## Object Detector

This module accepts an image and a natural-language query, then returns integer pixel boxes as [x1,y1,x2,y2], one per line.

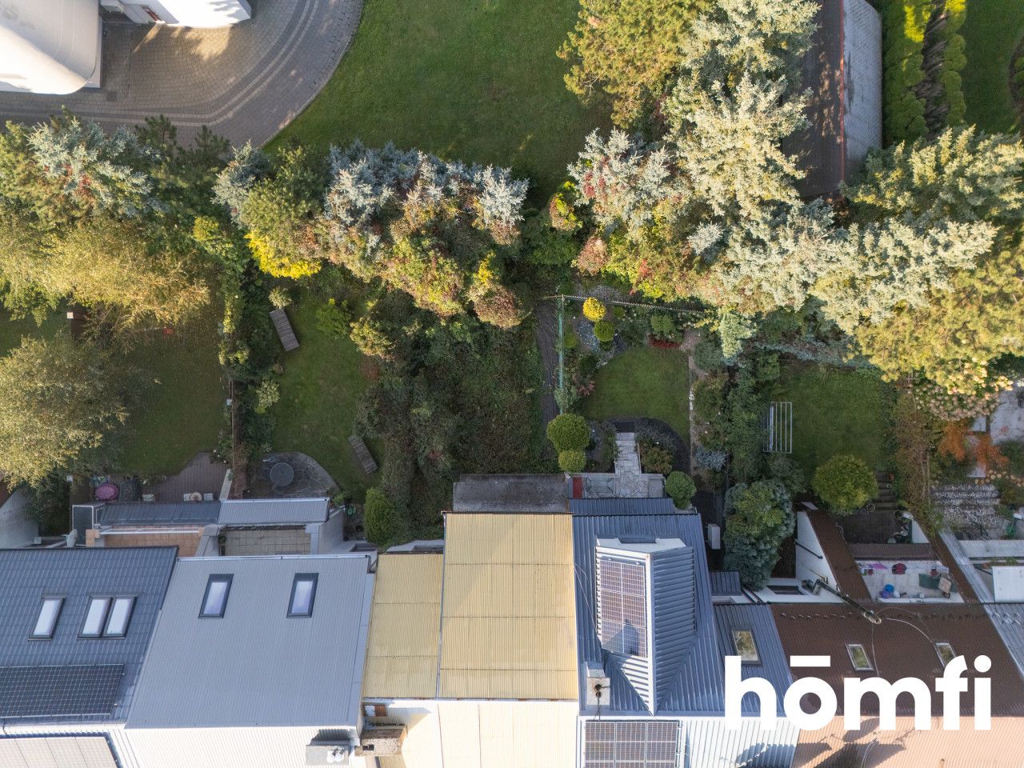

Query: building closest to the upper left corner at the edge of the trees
[0,0,102,94]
